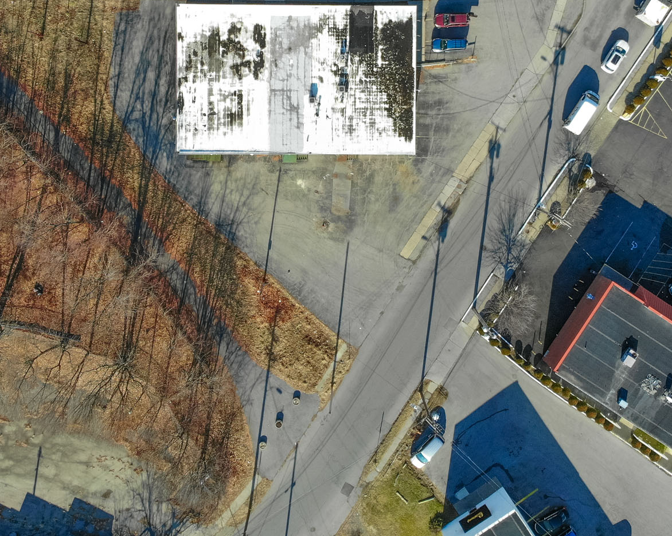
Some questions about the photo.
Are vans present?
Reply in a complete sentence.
Yes, this view includes a van.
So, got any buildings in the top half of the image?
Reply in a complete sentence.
Yes, the scene does show a building in the top half of the image.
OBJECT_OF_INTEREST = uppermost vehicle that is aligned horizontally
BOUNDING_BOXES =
[433,11,469,29]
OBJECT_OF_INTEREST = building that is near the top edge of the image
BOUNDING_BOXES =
[177,5,415,153]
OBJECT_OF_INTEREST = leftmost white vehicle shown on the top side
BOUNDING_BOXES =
[562,86,600,136]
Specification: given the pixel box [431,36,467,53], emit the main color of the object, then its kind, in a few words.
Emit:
blue car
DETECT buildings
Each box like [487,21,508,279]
[440,487,532,536]
[177,5,415,153]
[542,267,672,446]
